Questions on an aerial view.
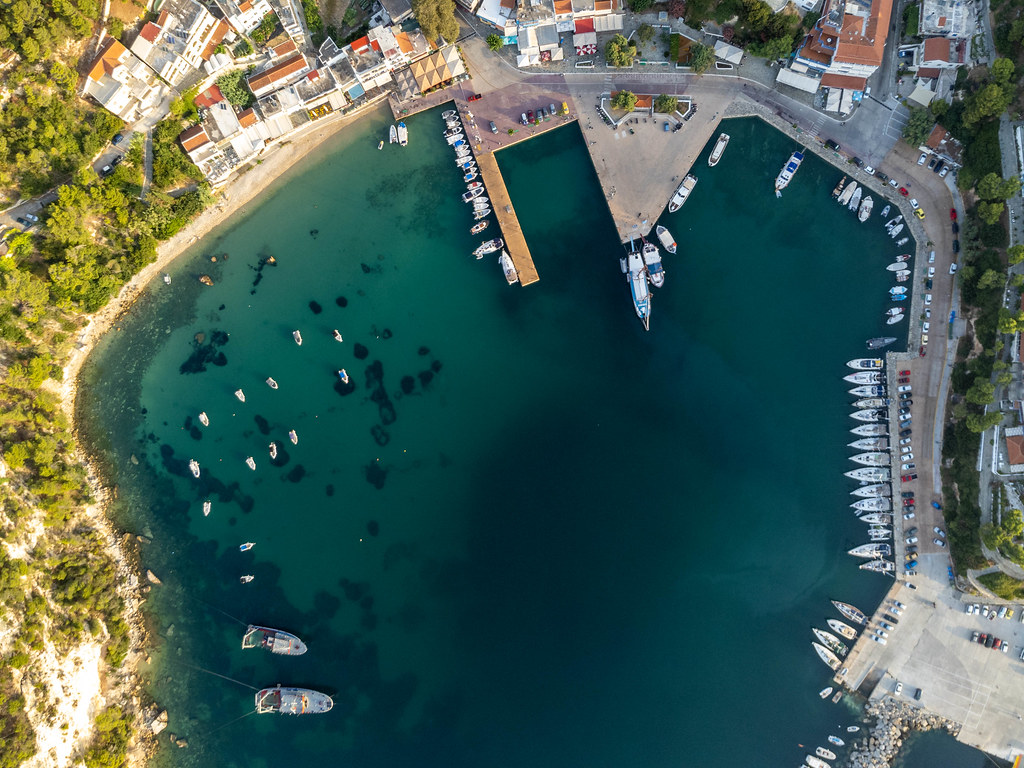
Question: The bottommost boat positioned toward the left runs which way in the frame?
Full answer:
The bottommost boat positioned toward the left is oriented from side to side.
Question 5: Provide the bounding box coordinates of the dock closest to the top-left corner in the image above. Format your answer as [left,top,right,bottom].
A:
[476,151,539,286]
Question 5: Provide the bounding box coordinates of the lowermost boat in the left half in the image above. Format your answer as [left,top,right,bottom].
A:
[256,686,333,716]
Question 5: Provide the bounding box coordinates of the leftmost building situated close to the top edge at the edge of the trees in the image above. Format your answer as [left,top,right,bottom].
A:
[82,32,178,126]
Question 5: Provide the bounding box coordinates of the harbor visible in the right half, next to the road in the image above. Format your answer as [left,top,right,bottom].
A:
[388,43,1024,763]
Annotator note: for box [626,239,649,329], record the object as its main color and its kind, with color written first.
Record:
white ship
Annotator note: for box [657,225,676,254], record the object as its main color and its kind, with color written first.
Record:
white boat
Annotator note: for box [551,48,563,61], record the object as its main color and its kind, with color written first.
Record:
white umbrella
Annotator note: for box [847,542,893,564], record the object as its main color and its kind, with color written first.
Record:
white boat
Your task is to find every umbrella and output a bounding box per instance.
[517,55,529,67]
[540,50,551,61]
[551,48,563,61]
[852,91,862,103]
[529,55,541,67]
[576,46,587,56]
[586,44,597,55]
